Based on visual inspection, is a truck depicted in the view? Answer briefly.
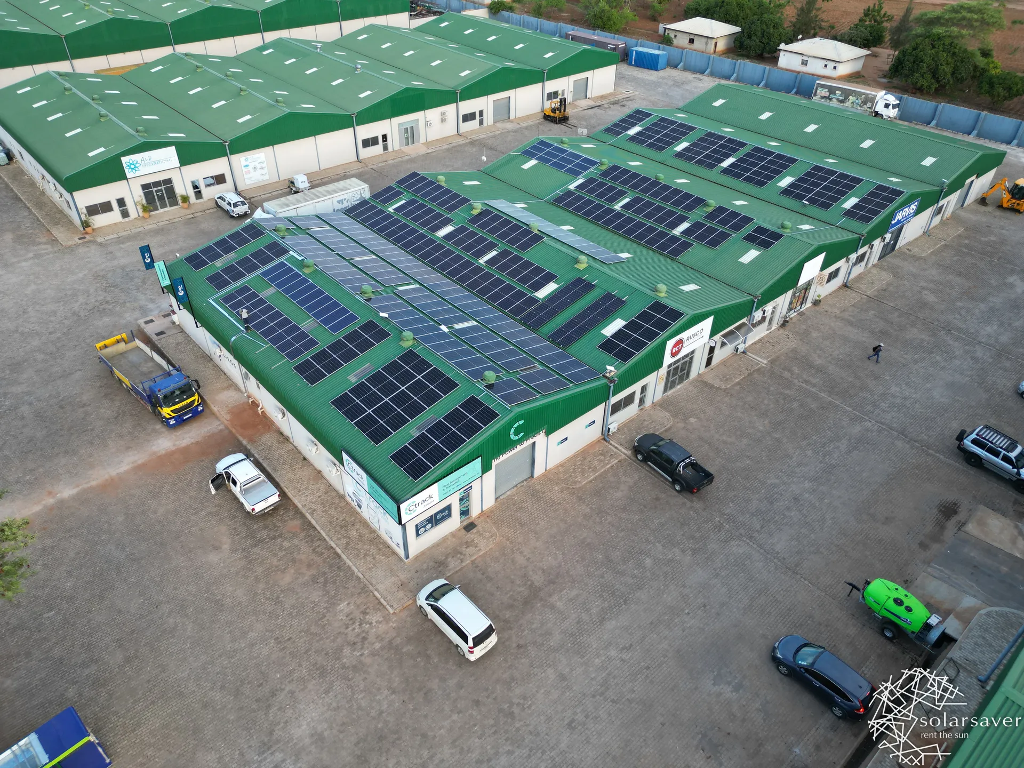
Yes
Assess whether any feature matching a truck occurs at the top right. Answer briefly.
Yes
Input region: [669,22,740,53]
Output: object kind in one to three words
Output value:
house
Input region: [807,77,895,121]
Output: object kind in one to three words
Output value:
truck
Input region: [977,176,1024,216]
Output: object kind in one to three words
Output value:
work vehicle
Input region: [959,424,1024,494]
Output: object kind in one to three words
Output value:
car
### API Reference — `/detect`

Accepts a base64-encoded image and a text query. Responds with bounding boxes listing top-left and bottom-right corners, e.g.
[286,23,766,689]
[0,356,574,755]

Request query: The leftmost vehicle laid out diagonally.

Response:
[90,323,203,425]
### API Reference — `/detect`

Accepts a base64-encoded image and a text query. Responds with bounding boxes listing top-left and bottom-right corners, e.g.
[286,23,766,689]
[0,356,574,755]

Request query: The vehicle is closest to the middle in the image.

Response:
[631,431,715,496]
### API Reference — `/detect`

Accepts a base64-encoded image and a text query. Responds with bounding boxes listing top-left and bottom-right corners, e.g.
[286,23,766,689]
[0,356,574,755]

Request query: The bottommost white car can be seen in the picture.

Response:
[414,576,507,663]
